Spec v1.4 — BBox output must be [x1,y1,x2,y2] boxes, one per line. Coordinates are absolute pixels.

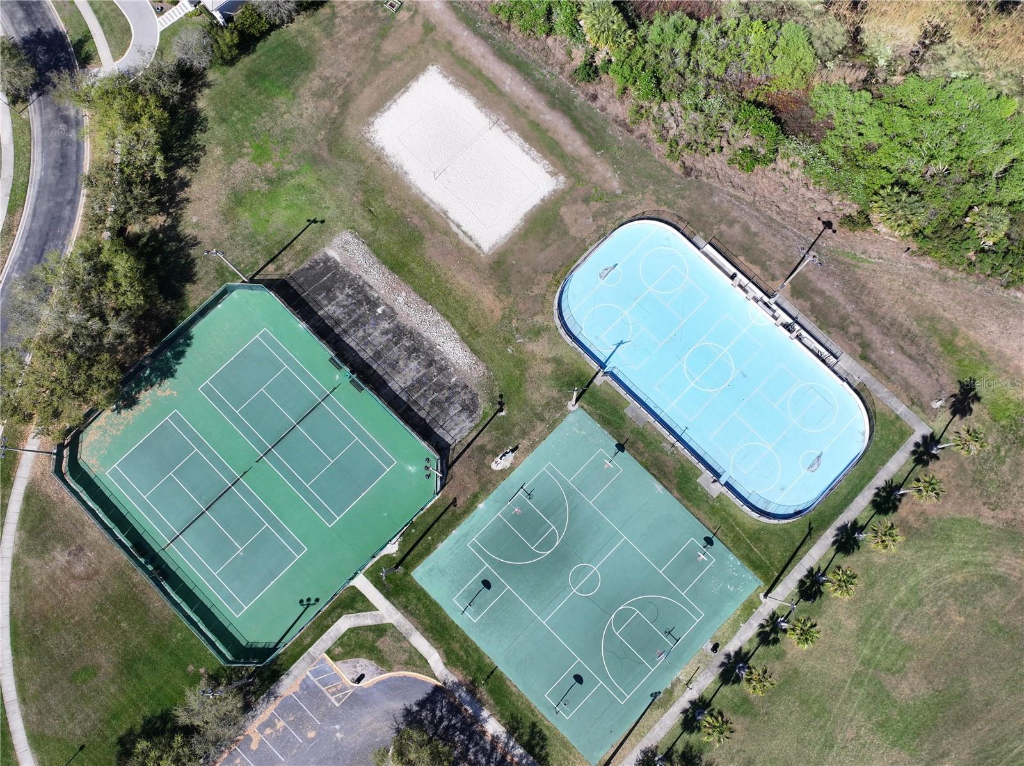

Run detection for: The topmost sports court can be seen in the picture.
[364,64,564,255]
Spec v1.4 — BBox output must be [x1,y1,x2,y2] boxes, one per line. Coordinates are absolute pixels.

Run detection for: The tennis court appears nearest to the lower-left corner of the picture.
[107,410,306,617]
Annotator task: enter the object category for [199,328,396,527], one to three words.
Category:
tennis court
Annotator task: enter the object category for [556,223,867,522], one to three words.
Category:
sports court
